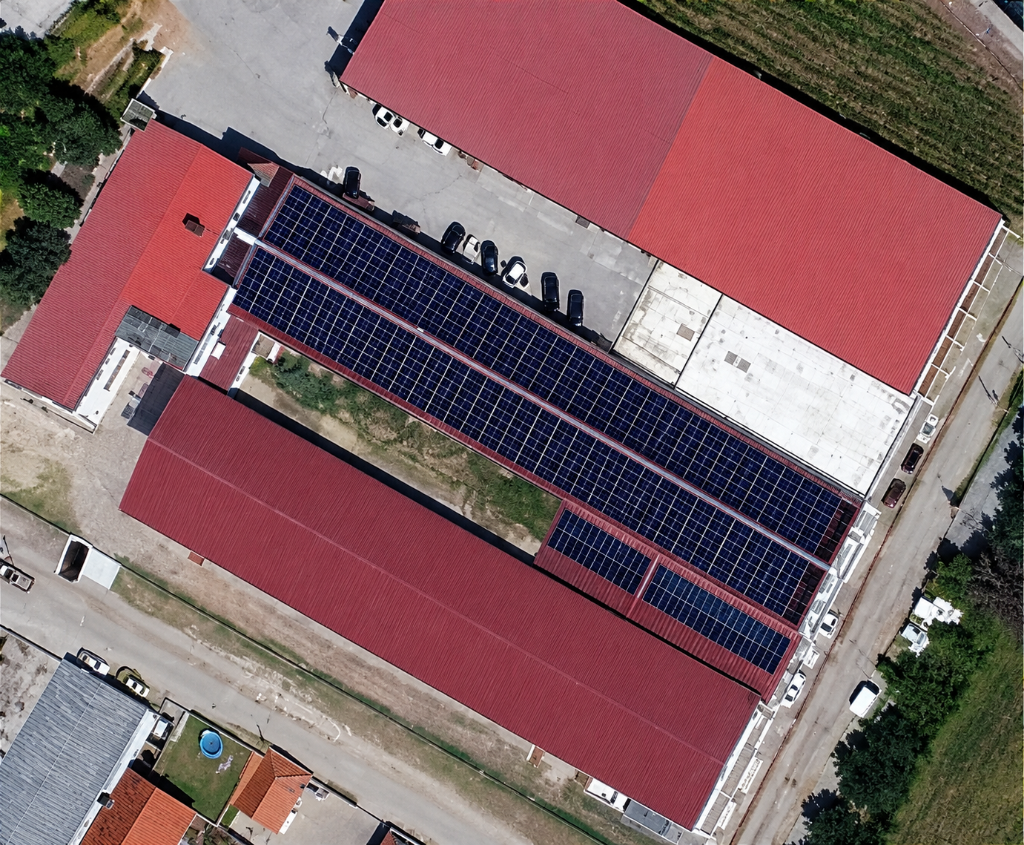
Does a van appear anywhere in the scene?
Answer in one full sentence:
Yes, the image includes a van.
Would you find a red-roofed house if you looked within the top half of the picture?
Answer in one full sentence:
Yes, a red-roofed house is visible within the top half of the picture.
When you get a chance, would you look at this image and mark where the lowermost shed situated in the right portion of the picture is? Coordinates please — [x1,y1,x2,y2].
[625,799,684,843]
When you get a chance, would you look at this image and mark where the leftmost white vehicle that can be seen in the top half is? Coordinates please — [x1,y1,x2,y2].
[372,106,411,136]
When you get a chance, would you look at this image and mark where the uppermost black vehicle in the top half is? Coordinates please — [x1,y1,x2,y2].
[343,166,361,200]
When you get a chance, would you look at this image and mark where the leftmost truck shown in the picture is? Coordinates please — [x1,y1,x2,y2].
[0,563,37,594]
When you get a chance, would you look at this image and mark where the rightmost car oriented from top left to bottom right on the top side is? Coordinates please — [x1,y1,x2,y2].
[415,128,454,158]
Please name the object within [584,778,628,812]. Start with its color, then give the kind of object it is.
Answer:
white van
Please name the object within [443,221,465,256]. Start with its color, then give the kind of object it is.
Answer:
black car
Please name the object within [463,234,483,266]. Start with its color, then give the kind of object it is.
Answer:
white car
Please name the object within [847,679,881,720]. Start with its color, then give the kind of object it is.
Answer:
white van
